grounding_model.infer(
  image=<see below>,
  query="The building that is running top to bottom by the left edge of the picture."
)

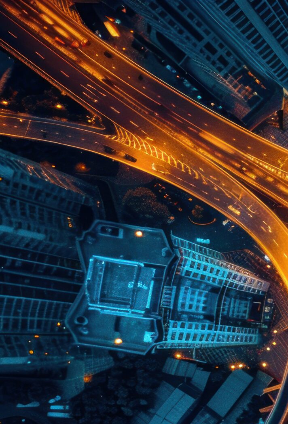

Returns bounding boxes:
[0,155,98,380]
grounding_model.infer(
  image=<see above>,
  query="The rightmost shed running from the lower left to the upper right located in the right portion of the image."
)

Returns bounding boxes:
[205,366,260,419]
